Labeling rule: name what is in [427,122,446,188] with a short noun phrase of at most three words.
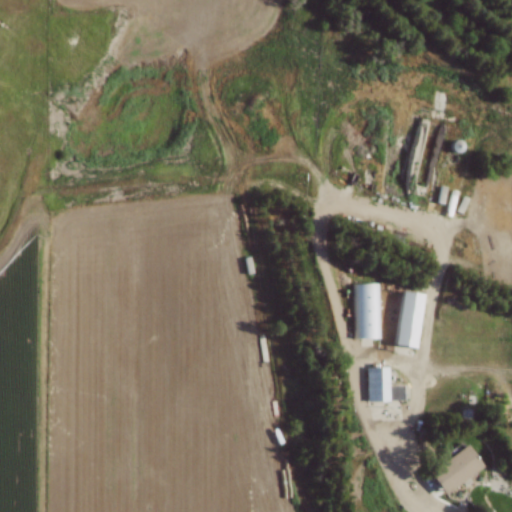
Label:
shed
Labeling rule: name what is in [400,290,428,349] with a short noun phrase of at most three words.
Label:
barn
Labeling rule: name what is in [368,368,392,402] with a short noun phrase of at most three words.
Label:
shed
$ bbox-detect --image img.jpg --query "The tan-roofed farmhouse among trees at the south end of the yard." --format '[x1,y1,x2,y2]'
[437,448,486,496]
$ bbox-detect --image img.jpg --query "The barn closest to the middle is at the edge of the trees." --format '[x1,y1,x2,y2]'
[355,284,382,340]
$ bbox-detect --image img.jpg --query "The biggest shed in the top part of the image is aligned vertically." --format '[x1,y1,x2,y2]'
[408,118,430,196]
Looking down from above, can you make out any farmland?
Yes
